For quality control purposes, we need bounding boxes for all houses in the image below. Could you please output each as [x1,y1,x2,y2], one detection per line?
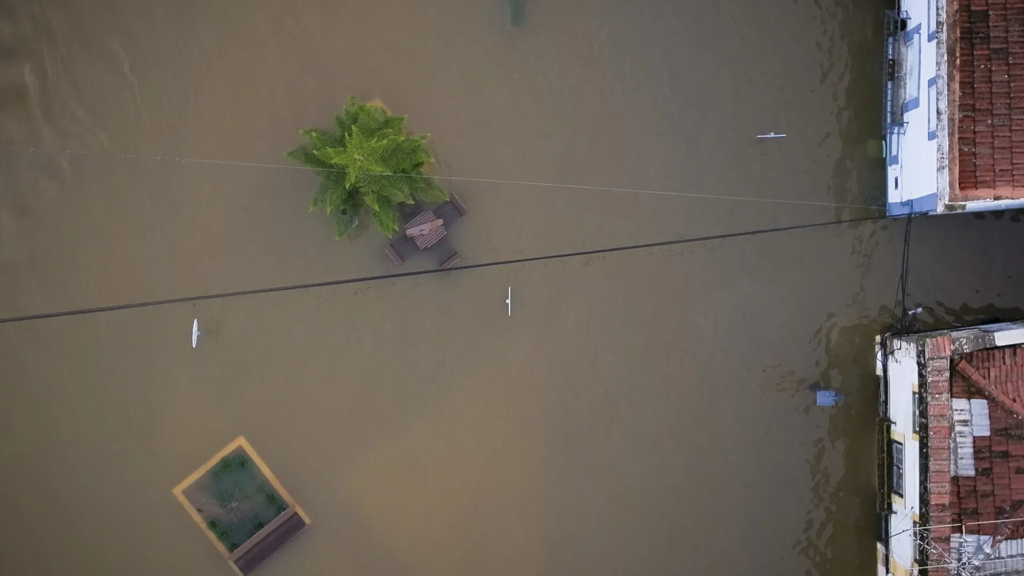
[867,316,1024,576]
[877,0,1024,219]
